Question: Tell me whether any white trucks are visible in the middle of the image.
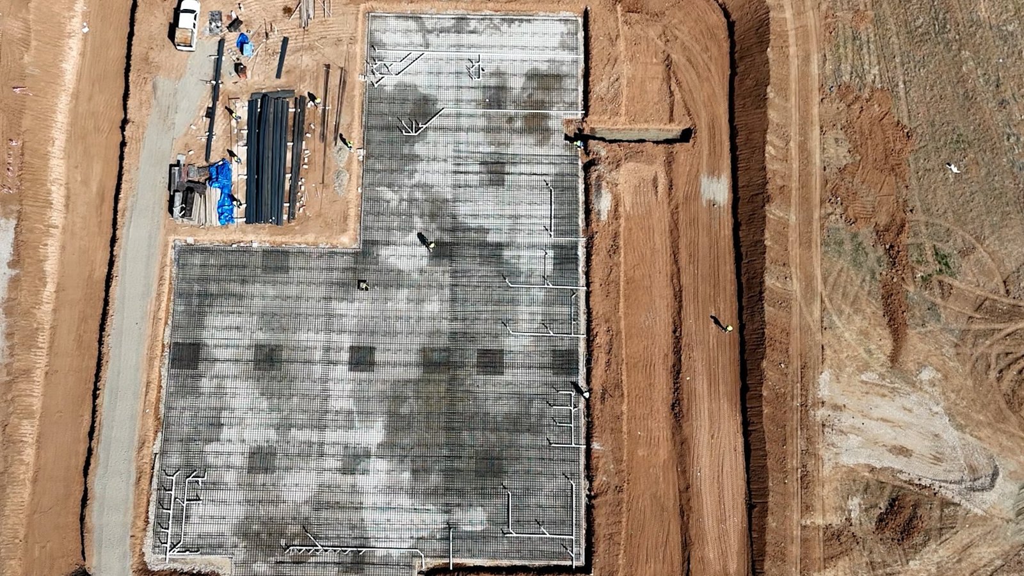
No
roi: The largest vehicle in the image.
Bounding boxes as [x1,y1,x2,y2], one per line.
[173,1,203,53]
